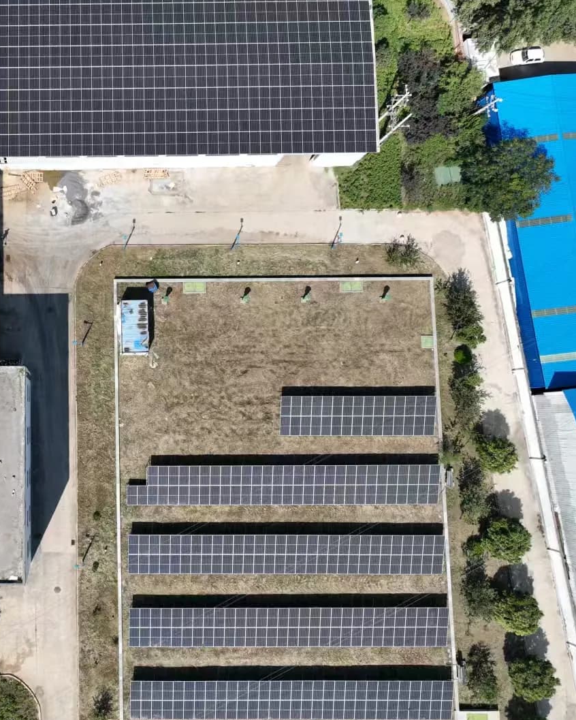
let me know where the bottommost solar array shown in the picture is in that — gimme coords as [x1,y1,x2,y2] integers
[131,680,453,720]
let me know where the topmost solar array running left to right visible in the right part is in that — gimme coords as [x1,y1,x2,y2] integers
[281,396,436,436]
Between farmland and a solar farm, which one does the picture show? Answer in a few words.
solar farm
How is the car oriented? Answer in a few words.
from left to right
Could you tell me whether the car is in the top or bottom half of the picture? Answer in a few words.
top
